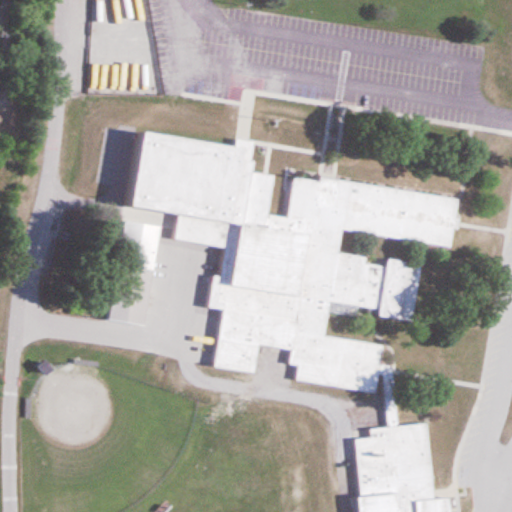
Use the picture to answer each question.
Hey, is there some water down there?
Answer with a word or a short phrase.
No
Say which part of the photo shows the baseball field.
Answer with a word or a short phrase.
bottom left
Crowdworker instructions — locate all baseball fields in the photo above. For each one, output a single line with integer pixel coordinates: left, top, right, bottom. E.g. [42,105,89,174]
[22,356,196,512]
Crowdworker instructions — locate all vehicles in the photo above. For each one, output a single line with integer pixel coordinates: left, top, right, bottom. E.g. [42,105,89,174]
[141,64,150,89]
[98,64,109,89]
[96,0,104,22]
[134,0,144,20]
[112,0,122,23]
[192,336,215,344]
[130,64,139,90]
[90,64,100,89]
[118,64,128,89]
[110,64,119,90]
[123,0,134,20]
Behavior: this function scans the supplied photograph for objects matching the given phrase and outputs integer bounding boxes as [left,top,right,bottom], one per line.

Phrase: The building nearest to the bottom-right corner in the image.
[352,422,452,512]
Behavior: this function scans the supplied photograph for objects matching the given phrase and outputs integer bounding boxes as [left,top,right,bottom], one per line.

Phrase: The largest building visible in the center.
[126,132,460,394]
